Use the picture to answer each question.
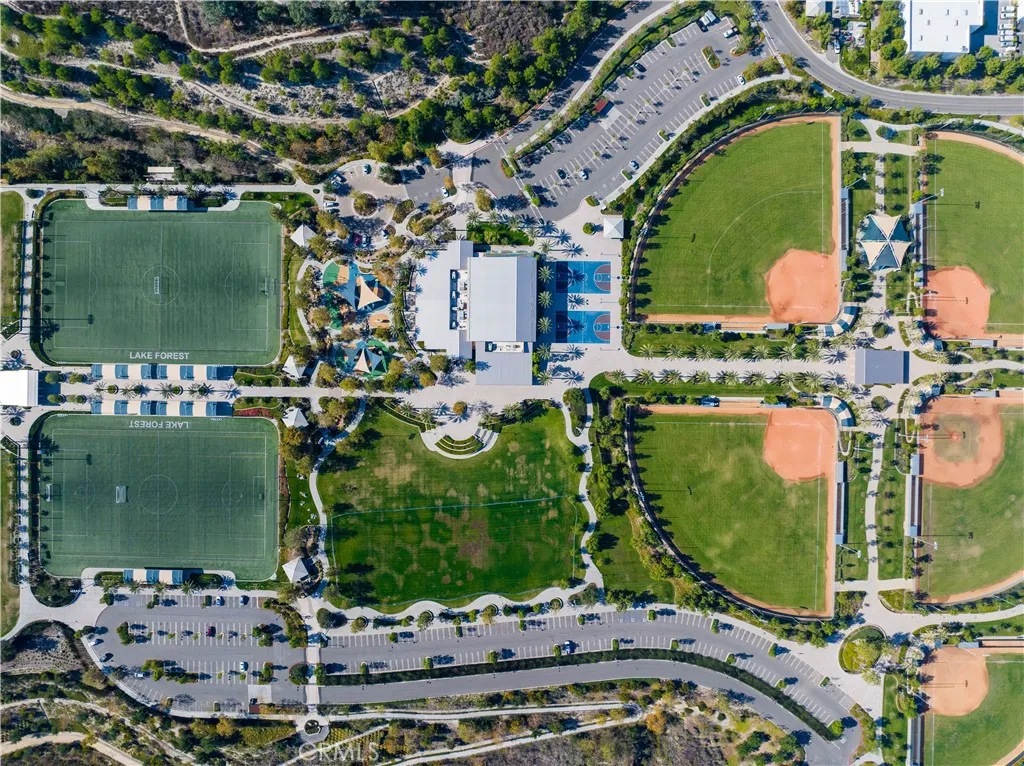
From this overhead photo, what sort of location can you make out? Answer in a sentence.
This looks like a sports ground.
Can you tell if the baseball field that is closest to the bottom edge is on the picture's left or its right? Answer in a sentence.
The baseball field that is closest to the bottom edge appears in the right half of the scene.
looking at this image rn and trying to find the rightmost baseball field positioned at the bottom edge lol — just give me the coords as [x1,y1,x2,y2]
[921,646,1024,766]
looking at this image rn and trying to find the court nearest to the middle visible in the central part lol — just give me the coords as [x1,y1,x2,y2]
[557,311,611,343]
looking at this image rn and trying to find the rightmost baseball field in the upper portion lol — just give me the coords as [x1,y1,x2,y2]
[922,131,1024,346]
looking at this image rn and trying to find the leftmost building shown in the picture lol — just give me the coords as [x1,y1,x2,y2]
[0,370,42,407]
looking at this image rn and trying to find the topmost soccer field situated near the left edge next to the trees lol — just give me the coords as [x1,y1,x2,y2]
[41,199,283,365]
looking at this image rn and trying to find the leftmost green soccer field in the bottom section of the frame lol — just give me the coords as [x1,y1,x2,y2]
[39,415,280,581]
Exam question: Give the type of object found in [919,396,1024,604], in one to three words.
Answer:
baseball field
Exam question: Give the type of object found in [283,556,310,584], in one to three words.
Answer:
tent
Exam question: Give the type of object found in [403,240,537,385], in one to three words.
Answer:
building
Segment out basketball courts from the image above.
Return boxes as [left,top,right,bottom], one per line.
[557,311,611,343]
[557,261,611,293]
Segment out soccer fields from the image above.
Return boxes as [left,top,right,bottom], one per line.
[39,415,280,581]
[41,199,283,365]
